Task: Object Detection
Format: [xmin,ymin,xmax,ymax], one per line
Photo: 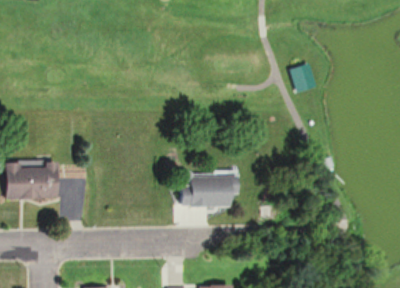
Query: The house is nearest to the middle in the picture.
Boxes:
[180,166,240,208]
